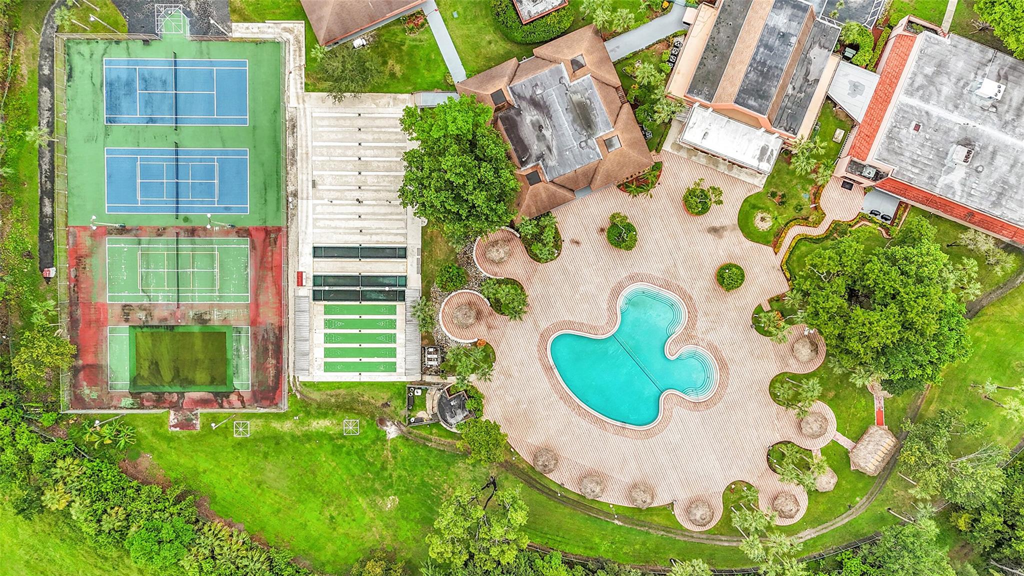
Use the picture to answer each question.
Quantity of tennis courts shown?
4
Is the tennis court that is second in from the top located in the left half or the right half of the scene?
left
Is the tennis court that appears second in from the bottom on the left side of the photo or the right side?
left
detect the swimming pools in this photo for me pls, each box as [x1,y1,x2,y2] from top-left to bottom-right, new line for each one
[537,273,730,440]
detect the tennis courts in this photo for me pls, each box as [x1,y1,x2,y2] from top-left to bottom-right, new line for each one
[108,326,251,392]
[104,51,249,131]
[106,232,250,309]
[105,141,249,220]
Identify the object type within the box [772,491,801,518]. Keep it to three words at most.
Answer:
umbrella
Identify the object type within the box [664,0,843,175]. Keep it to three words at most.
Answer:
building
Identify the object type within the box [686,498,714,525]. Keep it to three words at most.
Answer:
umbrella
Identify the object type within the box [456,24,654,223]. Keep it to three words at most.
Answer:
building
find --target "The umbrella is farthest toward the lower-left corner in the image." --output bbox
[451,303,478,329]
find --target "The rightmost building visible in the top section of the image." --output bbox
[832,15,1024,246]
